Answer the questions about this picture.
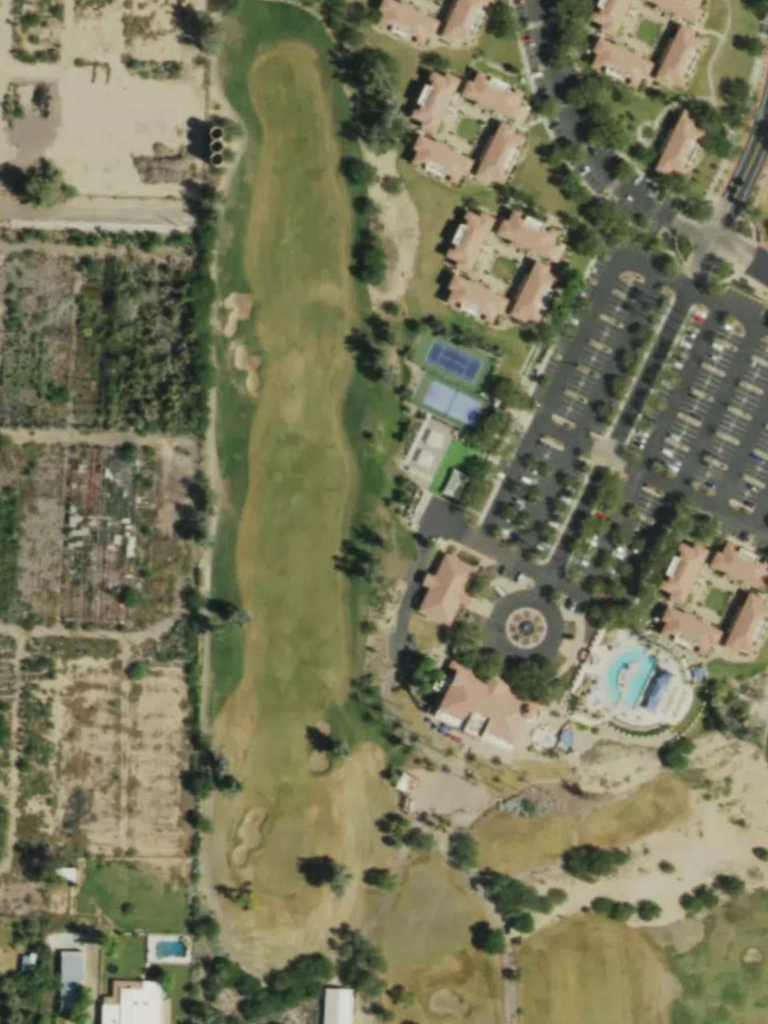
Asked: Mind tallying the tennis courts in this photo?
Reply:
2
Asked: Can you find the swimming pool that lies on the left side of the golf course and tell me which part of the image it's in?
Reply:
bottom left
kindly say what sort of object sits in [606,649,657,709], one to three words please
swimming pool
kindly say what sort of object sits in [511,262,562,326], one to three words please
building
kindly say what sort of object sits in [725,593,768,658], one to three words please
building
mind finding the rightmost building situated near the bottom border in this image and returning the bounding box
[324,990,354,1024]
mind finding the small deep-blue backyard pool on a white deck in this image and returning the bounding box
[148,934,191,964]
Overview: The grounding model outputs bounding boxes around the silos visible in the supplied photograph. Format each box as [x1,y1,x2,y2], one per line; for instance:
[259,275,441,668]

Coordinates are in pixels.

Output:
[209,124,224,138]
[210,138,224,152]
[210,151,224,166]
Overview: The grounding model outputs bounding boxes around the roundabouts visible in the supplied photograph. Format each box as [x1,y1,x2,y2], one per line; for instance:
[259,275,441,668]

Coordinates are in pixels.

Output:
[506,608,547,649]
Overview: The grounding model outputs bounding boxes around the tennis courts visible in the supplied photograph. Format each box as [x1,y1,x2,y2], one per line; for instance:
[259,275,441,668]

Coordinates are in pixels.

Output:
[411,363,483,429]
[415,332,496,386]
